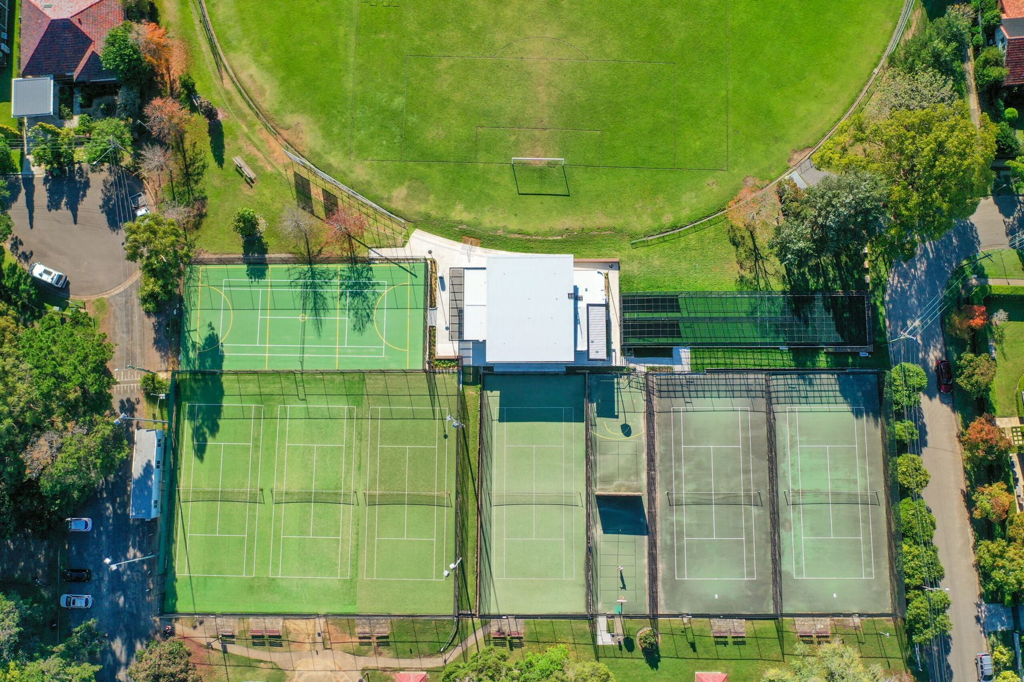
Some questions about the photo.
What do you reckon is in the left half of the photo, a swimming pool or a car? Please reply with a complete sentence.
You can see a car in the left half of the photo.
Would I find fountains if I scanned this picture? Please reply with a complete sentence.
No, the picture doesn't show any fountain.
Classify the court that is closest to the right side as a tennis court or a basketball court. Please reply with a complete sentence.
I'd say the court that is closest to the right side is a tennis court.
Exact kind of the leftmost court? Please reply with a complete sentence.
I'd say the leftmost court is a tennis court.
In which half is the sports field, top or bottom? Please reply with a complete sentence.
Seen from above, the sports field lies in the top half of the view.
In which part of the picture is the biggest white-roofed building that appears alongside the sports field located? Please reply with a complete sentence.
The biggest white-roofed building that appears alongside the sports field appears toward the center of the photo.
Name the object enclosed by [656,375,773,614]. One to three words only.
tennis court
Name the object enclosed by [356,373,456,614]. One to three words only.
tennis court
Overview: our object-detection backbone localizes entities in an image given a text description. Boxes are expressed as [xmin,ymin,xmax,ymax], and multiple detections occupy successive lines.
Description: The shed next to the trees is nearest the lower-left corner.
[130,430,162,520]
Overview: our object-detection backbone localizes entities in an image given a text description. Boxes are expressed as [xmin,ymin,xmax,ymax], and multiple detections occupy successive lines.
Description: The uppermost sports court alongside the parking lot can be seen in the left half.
[180,262,426,371]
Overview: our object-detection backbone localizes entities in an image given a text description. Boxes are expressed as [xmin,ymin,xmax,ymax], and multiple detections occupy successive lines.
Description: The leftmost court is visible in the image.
[164,373,271,614]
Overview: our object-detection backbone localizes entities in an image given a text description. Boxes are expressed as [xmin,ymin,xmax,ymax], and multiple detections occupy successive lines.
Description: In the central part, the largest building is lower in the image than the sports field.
[450,254,609,372]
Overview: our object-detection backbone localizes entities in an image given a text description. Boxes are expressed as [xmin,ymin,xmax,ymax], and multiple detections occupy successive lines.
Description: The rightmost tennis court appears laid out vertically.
[773,374,892,613]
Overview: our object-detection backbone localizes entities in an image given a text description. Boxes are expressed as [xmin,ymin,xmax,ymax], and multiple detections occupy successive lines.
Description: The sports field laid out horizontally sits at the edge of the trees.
[209,0,909,240]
